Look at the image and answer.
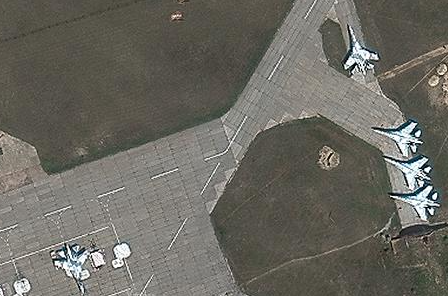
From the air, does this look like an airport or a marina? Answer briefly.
airport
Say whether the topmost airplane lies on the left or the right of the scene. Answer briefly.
right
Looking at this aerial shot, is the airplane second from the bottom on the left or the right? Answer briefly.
right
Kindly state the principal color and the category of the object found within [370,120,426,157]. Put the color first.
white airplane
